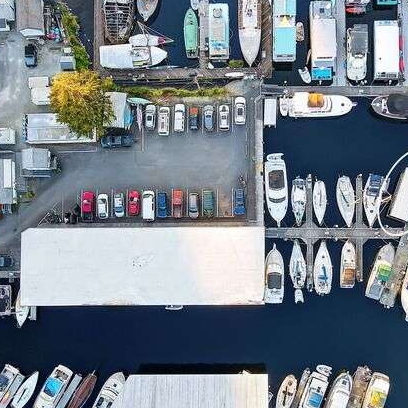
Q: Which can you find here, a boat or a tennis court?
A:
boat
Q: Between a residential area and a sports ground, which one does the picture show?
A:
residential area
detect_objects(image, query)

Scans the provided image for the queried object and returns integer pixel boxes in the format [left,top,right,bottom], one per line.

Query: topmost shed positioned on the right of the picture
[264,98,277,130]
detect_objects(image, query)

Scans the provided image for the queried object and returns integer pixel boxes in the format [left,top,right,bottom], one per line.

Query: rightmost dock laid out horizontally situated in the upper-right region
[278,79,408,95]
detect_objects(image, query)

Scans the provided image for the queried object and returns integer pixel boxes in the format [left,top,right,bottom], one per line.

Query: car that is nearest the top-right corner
[234,98,246,125]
